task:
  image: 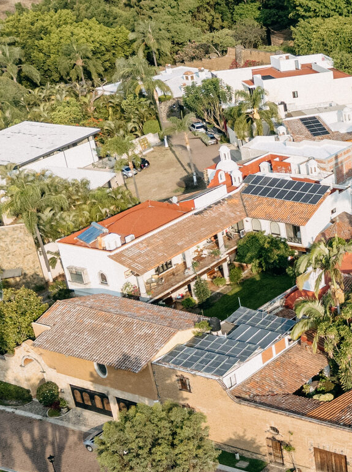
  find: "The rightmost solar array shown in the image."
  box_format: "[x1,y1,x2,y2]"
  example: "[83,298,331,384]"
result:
[299,117,329,136]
